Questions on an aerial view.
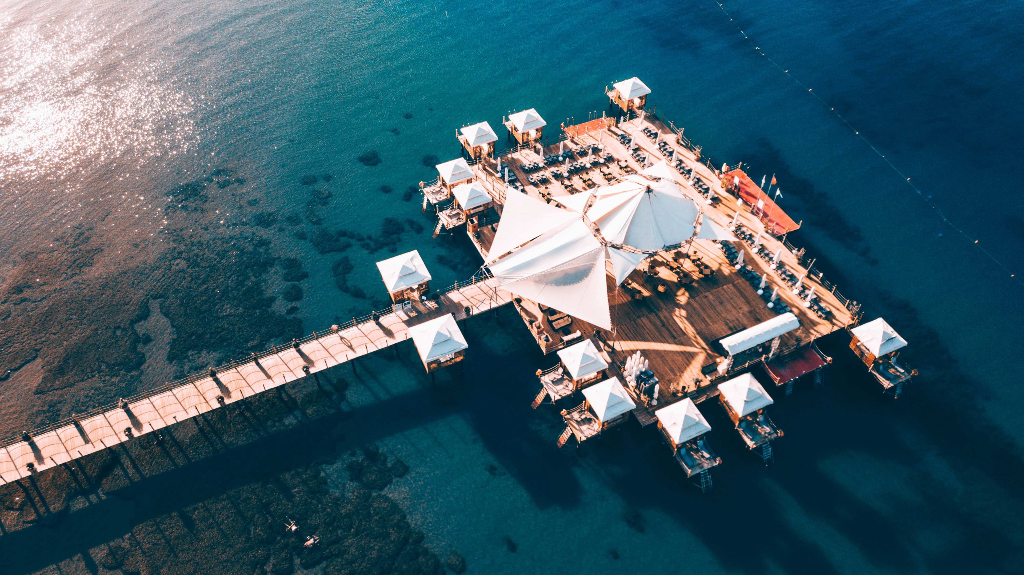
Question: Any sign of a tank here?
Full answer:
No, I find no tank anywhere in the image.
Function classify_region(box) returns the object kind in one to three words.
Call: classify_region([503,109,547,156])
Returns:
tent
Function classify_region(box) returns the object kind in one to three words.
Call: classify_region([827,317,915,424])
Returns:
tent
